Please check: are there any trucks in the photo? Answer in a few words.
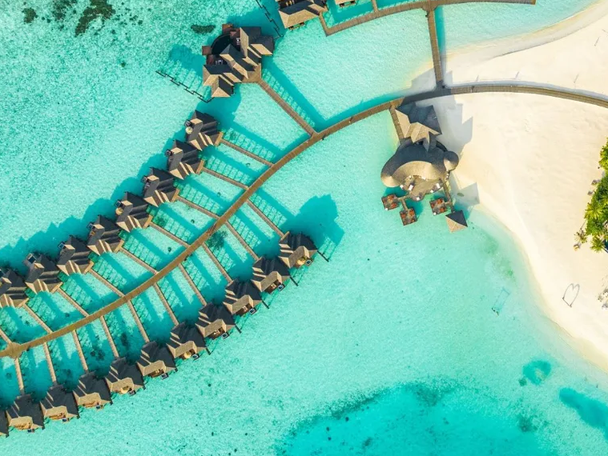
No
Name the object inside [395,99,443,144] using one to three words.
building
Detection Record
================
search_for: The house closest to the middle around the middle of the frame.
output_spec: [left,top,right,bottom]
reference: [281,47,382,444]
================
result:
[275,230,322,281]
